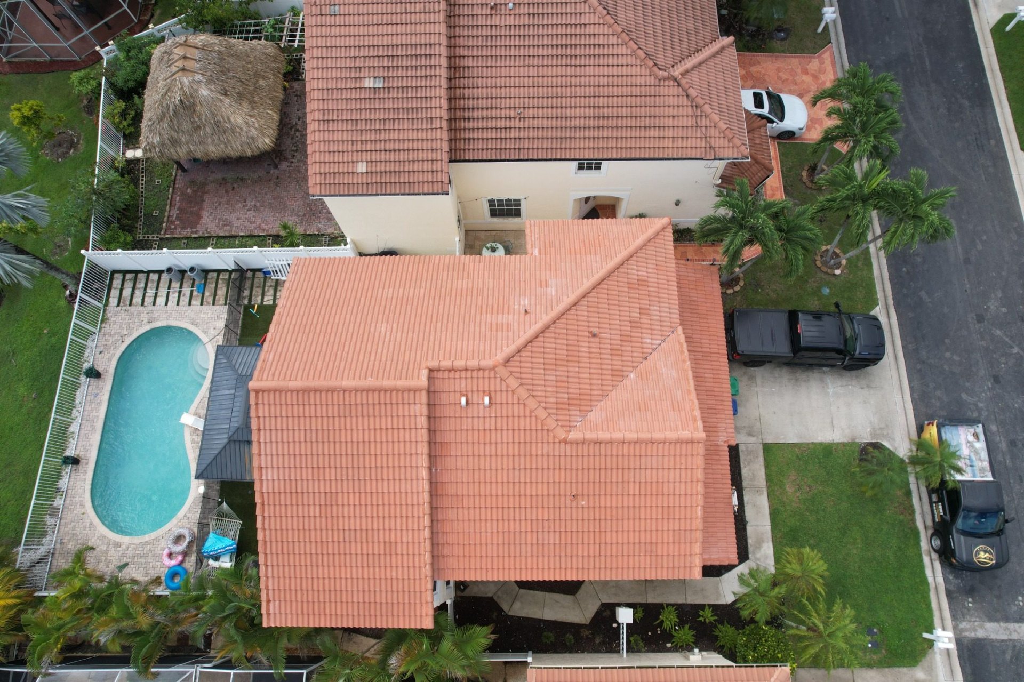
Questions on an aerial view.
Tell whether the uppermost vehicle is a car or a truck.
car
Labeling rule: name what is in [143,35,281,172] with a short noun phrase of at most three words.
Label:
shed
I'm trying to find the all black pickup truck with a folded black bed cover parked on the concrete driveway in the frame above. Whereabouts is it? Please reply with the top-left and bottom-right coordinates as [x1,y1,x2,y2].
[724,313,890,383]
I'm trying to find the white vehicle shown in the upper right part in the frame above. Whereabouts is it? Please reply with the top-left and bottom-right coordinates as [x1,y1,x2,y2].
[742,83,808,141]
